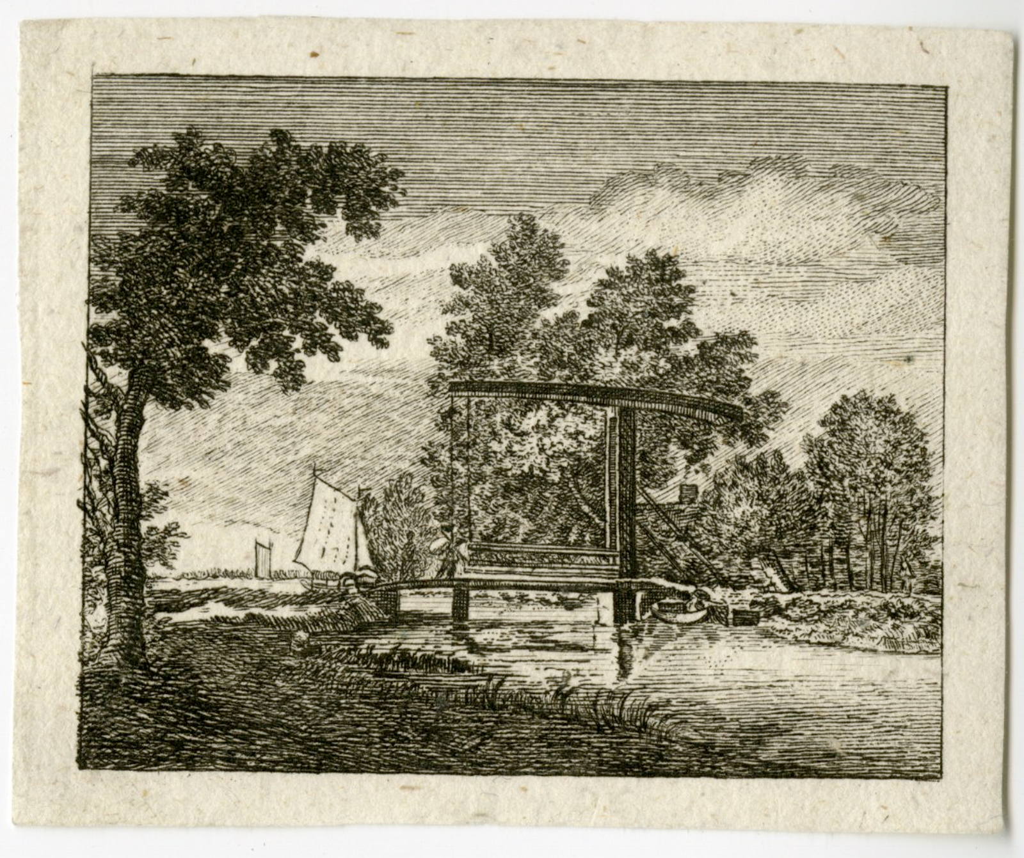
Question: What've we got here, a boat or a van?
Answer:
boat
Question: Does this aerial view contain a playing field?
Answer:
No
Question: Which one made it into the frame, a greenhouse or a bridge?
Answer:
bridge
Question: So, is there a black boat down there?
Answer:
No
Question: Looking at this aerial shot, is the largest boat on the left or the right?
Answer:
left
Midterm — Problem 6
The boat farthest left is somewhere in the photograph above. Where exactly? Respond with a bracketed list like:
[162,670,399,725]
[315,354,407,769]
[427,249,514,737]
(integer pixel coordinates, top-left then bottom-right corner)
[255,539,272,580]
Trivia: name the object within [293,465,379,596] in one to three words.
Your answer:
boat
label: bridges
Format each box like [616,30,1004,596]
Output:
[360,381,744,625]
